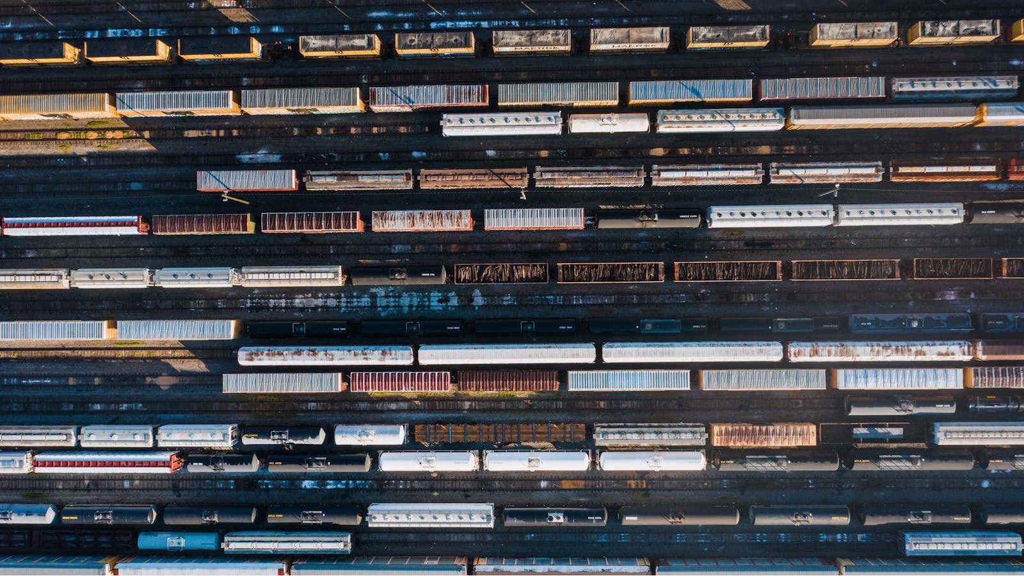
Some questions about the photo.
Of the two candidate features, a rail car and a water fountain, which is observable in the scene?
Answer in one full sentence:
The image shows a rail car.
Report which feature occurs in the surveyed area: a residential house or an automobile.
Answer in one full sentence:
The one in the frame is an automobile.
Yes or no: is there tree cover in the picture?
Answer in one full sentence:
No, no tree cover is visible.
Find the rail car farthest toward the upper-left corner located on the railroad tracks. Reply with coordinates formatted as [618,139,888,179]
[0,92,121,120]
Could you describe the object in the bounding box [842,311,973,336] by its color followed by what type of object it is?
black rail car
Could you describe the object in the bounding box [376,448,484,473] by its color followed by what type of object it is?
white rail car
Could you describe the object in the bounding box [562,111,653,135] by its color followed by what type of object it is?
white rail car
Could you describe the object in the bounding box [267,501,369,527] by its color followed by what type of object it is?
black rail car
